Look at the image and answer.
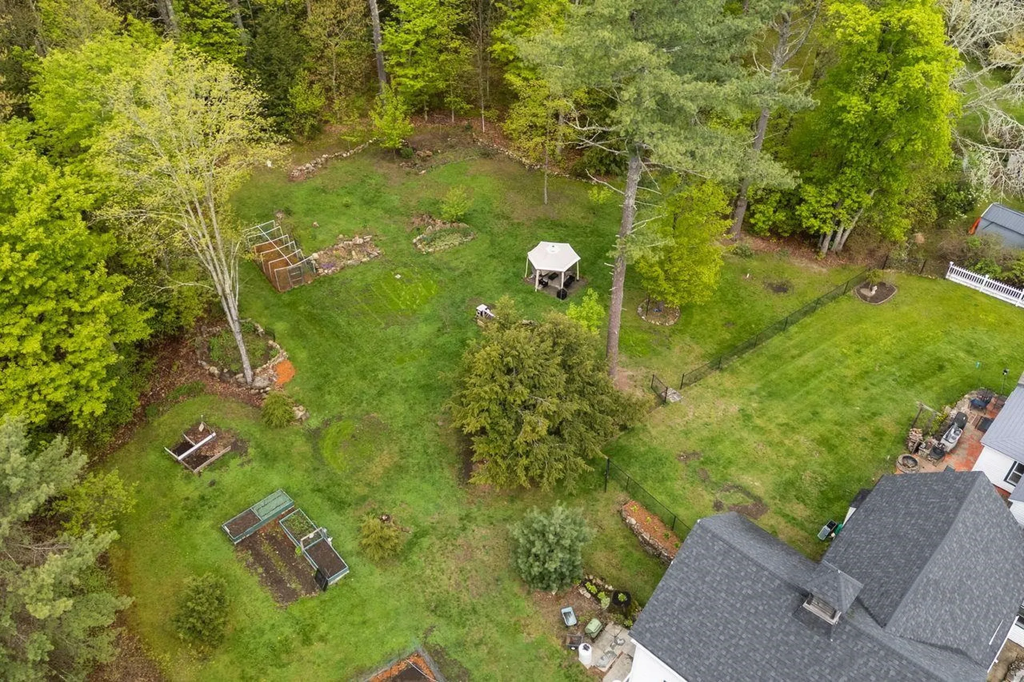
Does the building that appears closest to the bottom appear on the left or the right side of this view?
right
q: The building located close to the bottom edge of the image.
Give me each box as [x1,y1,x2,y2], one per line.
[624,473,1024,682]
